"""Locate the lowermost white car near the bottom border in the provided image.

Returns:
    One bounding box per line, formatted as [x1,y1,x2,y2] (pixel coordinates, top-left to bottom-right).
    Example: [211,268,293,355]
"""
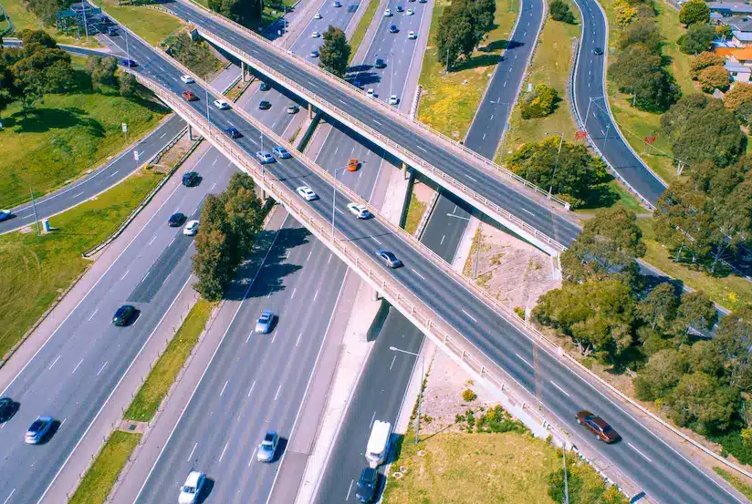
[178,469,207,504]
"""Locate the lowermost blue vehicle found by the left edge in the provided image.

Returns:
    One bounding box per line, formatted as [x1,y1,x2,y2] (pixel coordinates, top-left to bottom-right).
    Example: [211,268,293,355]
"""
[24,417,56,446]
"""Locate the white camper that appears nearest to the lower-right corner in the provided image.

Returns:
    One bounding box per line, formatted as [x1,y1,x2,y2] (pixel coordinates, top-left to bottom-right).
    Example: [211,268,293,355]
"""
[364,420,393,468]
